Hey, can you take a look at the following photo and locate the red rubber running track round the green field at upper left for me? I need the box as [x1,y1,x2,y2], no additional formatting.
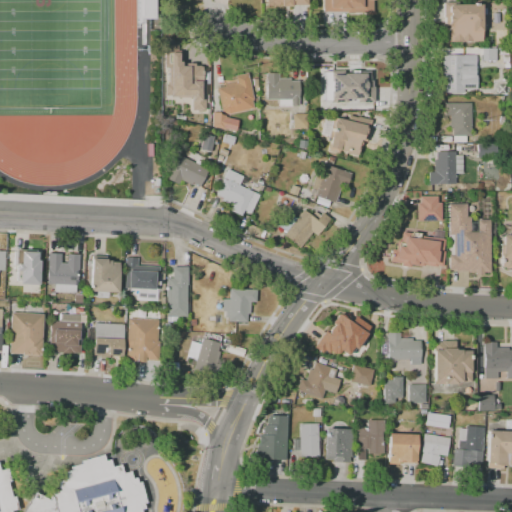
[0,0,138,186]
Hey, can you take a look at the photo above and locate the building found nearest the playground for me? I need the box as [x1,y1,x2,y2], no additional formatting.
[26,454,150,512]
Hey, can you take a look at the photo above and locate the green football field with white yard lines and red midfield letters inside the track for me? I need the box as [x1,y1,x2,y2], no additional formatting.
[0,0,115,116]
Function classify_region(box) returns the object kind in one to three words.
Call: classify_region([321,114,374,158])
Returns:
house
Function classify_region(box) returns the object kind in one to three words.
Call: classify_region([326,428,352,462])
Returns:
house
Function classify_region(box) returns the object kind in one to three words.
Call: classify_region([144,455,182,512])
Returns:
playground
